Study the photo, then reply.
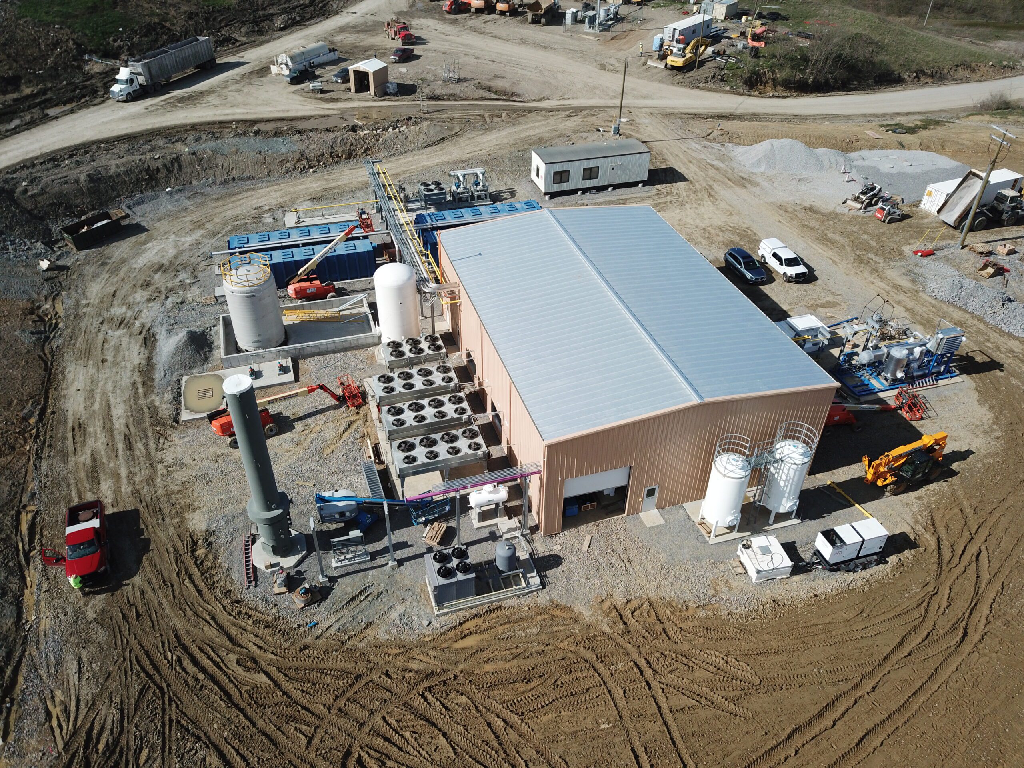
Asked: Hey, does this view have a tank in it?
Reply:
Yes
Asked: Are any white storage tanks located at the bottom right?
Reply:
Yes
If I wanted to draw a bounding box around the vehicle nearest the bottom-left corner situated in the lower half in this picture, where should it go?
[41,499,111,586]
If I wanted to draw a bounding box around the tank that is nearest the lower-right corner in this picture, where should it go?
[735,536,795,587]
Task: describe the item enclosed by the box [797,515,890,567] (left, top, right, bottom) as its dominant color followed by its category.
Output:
white trailer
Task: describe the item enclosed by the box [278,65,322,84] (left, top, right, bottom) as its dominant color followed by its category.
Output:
black vehicle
